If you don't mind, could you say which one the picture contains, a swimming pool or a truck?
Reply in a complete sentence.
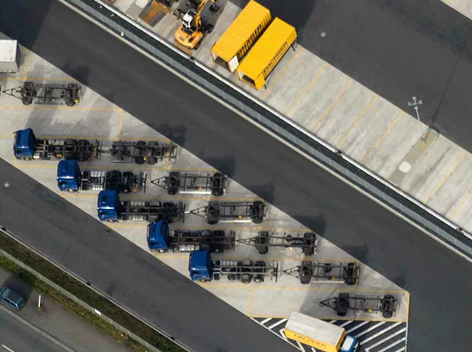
Of the two, only a truck appears.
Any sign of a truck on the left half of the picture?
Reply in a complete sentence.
Yes, there is a truck on the left half of the picture.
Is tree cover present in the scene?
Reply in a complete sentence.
No, the picture contains no tree cover.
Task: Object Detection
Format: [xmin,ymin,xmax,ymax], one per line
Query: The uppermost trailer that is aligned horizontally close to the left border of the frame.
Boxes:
[2,83,84,106]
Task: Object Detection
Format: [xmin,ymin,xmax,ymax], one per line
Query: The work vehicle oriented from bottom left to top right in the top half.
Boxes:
[167,0,227,53]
